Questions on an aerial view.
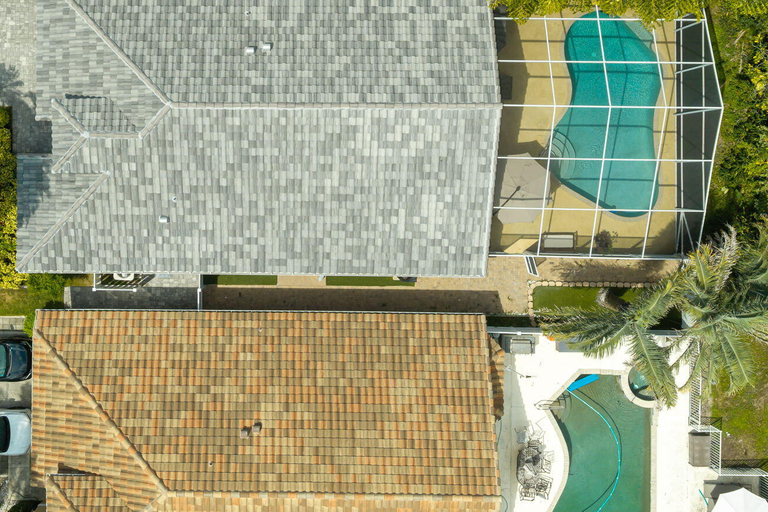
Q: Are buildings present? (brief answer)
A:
Yes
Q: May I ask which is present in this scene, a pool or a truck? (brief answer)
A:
pool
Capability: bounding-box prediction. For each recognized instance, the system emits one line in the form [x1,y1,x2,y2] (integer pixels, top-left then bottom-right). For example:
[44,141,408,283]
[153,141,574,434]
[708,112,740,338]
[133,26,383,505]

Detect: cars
[0,407,29,452]
[0,335,29,381]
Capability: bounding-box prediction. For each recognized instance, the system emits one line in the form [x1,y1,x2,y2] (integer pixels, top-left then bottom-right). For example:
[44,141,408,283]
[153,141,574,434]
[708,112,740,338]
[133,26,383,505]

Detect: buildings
[15,0,503,277]
[28,308,506,512]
